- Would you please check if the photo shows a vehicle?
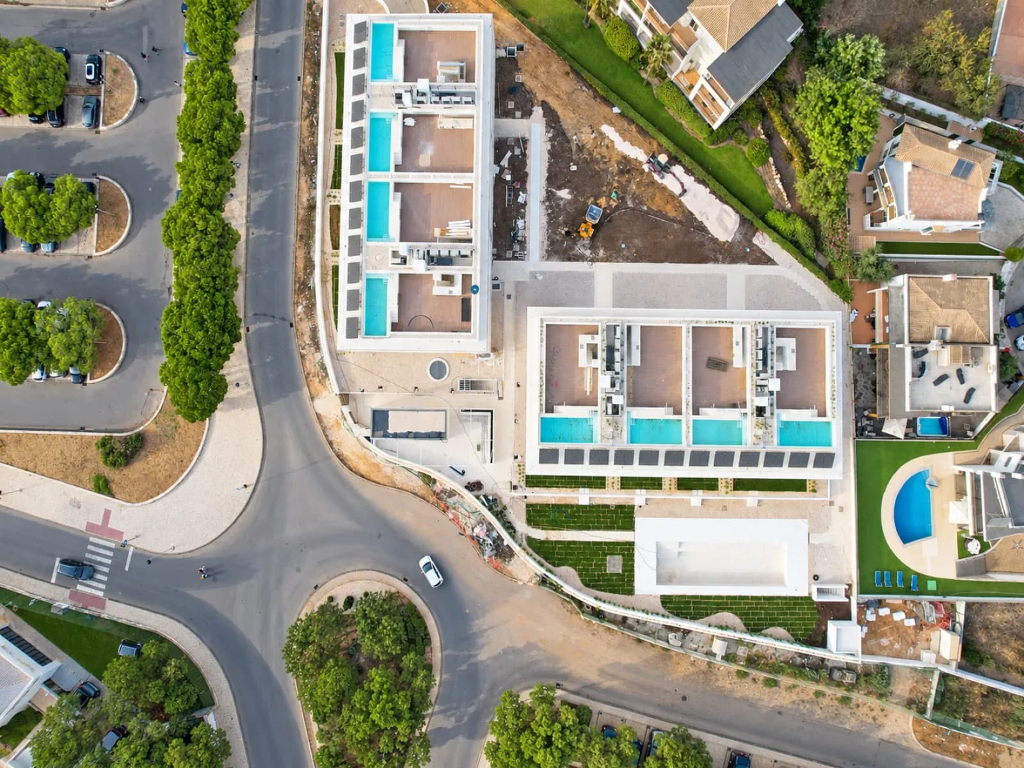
Yes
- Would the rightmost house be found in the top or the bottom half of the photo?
bottom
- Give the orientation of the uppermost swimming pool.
vertically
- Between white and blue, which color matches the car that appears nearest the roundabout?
white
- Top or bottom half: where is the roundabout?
bottom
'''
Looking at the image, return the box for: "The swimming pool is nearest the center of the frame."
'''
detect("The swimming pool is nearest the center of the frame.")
[541,417,597,443]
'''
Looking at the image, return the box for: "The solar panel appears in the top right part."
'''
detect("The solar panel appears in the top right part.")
[951,159,975,179]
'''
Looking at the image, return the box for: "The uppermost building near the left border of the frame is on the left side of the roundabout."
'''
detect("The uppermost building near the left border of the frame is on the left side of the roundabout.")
[0,598,82,720]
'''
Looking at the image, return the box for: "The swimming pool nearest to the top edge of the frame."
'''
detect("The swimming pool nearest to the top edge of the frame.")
[371,26,394,81]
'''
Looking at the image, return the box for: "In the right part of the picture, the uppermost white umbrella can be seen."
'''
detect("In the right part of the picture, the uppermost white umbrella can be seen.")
[877,419,908,443]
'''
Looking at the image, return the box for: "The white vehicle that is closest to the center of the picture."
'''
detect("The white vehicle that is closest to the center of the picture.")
[420,554,444,588]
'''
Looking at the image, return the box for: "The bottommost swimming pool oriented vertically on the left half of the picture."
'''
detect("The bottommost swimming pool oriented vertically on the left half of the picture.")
[366,274,388,336]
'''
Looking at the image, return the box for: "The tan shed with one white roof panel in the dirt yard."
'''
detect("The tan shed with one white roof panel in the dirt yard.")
[923,624,960,662]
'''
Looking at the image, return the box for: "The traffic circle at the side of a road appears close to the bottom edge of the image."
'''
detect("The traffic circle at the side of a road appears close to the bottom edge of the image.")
[292,571,441,768]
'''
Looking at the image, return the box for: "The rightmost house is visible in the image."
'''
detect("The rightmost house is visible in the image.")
[949,424,1024,577]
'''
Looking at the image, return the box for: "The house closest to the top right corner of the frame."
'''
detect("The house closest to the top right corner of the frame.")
[857,123,1003,236]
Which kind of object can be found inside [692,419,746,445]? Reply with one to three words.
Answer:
swimming pool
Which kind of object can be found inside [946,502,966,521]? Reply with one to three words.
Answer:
umbrella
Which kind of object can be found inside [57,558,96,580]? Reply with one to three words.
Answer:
car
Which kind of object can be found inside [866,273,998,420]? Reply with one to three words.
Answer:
house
